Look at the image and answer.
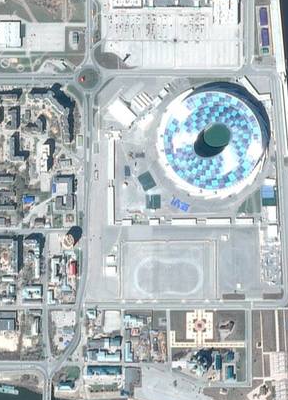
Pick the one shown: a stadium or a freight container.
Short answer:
stadium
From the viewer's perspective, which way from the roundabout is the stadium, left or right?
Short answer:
on the right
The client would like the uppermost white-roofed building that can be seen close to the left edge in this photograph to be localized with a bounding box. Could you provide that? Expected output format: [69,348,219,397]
[1,22,21,47]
